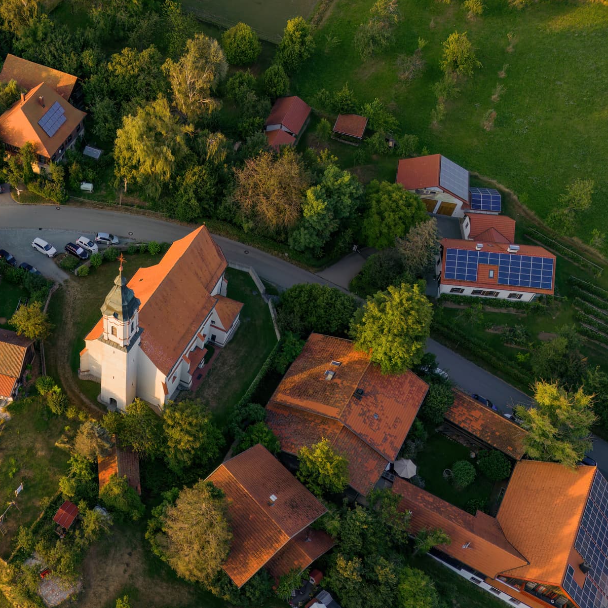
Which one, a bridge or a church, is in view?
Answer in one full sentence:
Looking from above, you can make out a church.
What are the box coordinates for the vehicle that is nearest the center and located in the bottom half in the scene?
[435,358,459,384]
